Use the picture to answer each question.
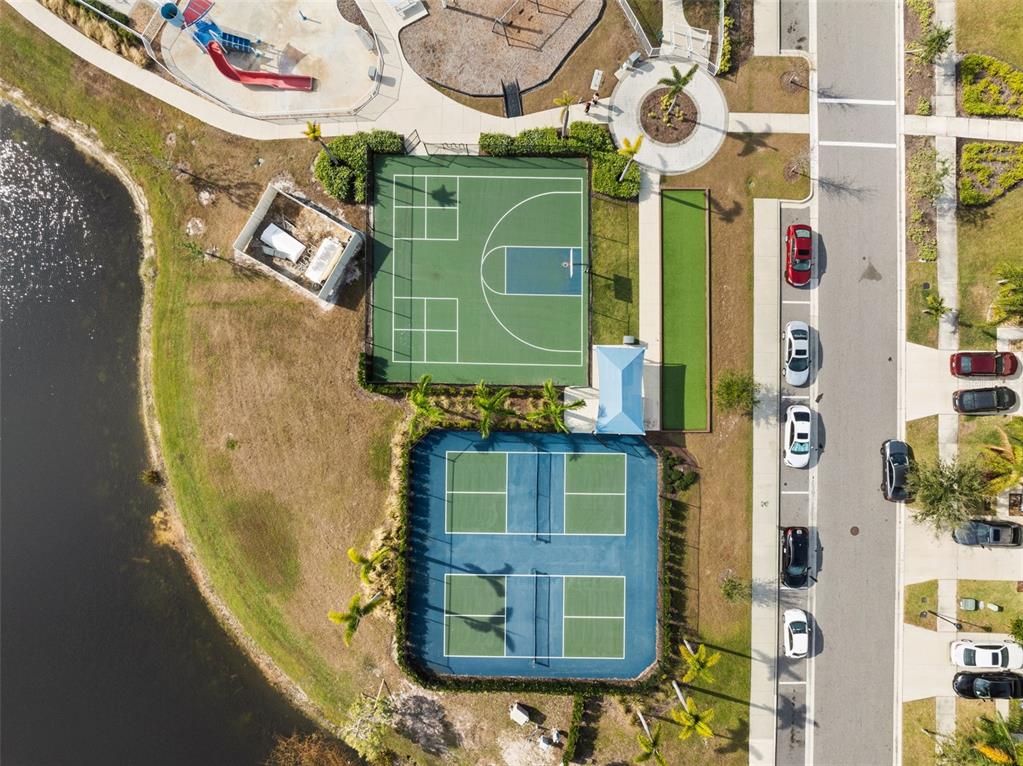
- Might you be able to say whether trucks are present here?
No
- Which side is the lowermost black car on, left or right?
right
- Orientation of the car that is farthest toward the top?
from top to bottom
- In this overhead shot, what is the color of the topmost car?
red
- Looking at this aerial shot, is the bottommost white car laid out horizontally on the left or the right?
right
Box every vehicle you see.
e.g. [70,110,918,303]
[950,636,1023,671]
[780,321,812,386]
[951,667,1023,701]
[951,384,1017,414]
[950,349,1017,380]
[783,223,815,288]
[781,404,814,468]
[879,439,915,503]
[780,526,813,588]
[781,606,812,659]
[947,517,1023,548]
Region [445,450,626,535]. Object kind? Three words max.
sports court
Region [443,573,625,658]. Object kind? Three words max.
sports court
